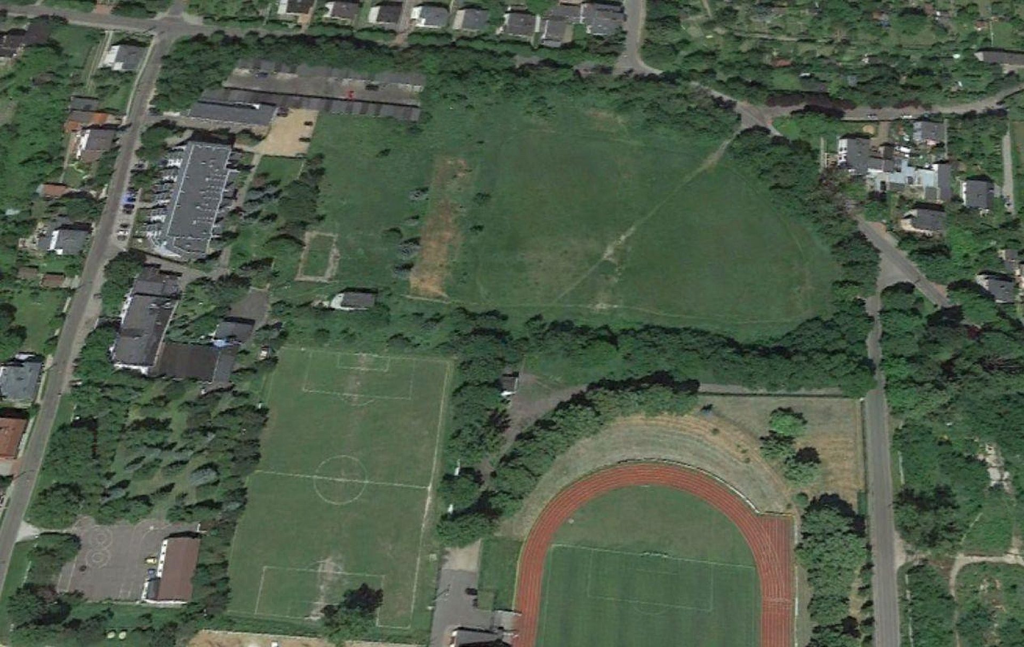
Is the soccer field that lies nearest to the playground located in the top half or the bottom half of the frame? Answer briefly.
bottom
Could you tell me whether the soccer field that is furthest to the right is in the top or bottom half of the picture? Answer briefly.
bottom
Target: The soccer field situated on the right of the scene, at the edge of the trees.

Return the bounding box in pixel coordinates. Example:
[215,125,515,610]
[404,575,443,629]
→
[539,488,763,647]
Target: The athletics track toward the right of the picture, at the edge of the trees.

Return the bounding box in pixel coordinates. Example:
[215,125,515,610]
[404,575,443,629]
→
[508,461,797,647]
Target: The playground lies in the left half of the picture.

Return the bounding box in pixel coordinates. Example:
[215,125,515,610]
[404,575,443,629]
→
[55,515,202,600]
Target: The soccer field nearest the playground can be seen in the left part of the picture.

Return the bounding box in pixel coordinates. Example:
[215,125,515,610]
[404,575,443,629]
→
[216,344,455,633]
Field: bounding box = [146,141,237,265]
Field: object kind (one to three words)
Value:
building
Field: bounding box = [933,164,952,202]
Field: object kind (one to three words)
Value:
shed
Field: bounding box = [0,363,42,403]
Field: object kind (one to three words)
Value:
house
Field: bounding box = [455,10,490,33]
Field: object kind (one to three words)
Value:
house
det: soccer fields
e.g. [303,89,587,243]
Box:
[216,344,455,633]
[539,488,763,647]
